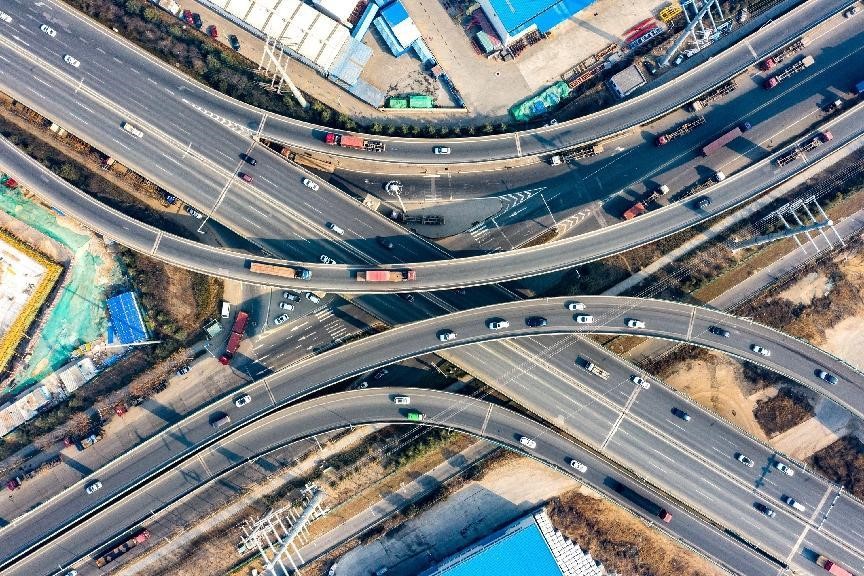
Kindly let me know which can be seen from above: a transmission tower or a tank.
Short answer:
transmission tower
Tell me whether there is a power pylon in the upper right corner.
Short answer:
Yes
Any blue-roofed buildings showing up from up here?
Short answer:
Yes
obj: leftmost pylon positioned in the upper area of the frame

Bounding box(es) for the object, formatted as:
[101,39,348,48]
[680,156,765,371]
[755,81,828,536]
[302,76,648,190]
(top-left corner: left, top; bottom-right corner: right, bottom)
[263,31,307,109]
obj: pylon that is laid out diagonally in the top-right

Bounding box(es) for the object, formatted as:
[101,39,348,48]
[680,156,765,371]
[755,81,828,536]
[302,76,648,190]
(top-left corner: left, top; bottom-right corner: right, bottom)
[660,0,742,67]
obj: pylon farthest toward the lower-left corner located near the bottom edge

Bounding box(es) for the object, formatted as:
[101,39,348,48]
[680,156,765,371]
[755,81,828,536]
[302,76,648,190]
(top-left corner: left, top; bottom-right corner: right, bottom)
[256,487,328,576]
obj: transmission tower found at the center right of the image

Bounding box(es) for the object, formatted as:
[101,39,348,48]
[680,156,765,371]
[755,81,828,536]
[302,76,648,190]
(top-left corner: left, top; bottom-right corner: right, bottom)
[727,197,845,256]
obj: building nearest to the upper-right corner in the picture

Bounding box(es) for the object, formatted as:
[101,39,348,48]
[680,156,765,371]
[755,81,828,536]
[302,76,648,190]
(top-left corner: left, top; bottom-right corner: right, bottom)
[607,64,645,101]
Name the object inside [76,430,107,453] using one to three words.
truck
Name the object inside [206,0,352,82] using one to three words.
shed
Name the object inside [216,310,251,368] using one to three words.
truck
